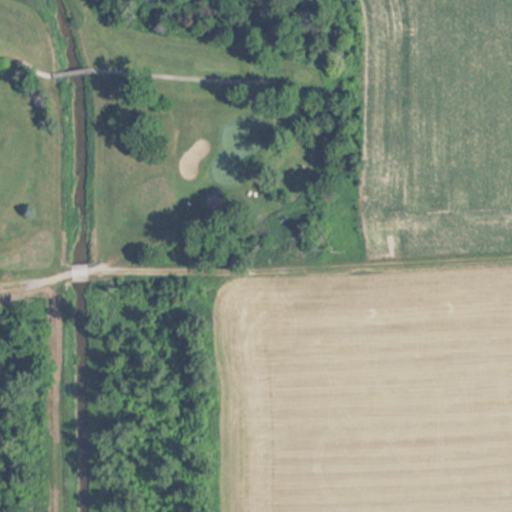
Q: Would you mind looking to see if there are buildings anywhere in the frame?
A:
No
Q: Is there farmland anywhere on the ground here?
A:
Yes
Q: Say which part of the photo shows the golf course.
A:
top left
